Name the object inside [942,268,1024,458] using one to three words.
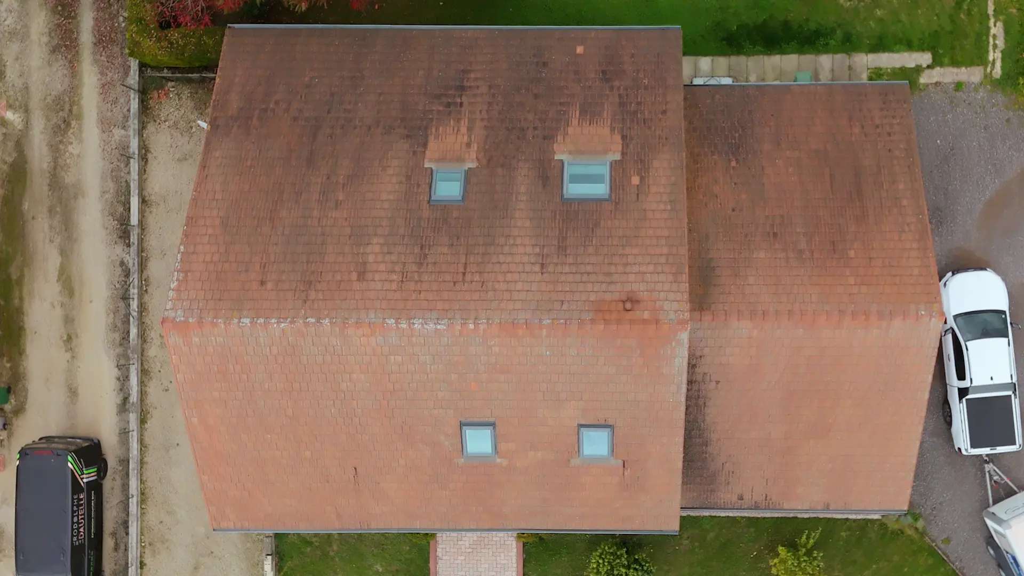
truck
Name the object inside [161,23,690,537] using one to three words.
house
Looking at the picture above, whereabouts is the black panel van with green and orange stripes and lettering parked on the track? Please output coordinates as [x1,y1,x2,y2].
[16,435,106,576]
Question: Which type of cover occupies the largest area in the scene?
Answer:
buildings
